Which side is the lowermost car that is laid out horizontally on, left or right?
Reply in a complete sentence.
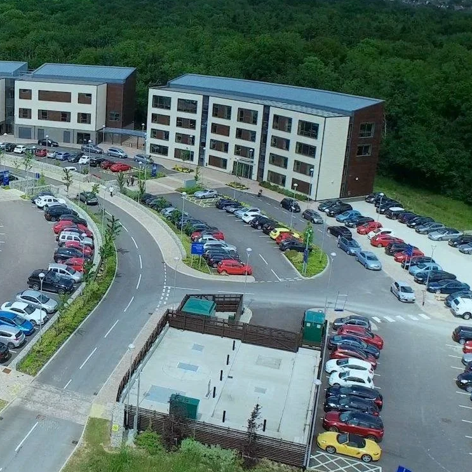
It is on the right.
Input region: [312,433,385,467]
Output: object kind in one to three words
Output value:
car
